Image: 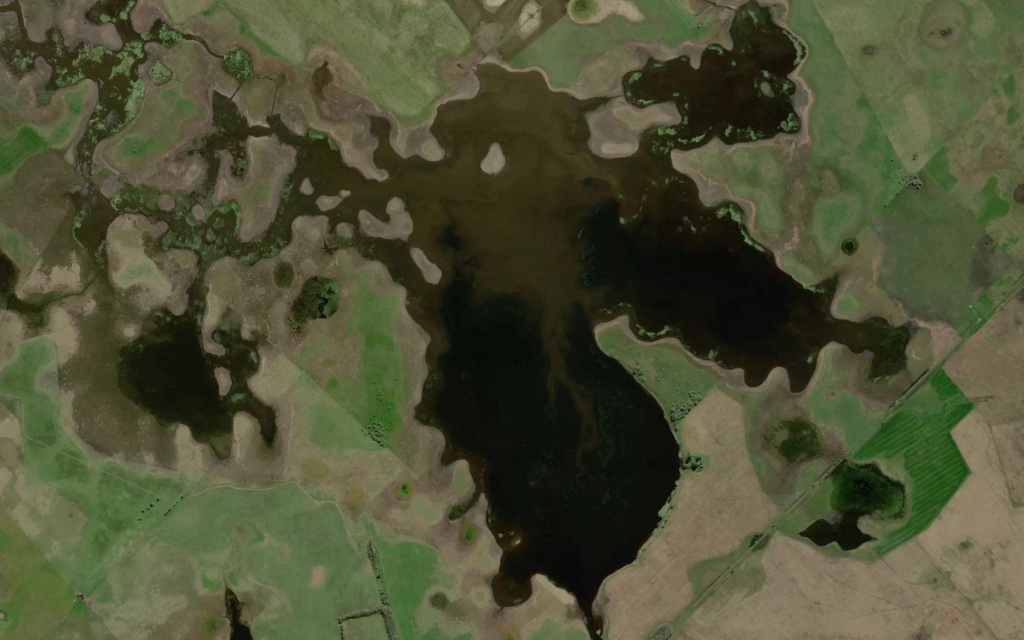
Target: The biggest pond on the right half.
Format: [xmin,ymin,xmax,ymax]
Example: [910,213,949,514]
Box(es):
[800,507,876,550]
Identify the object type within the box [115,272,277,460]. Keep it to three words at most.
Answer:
pond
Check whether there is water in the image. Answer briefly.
Yes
